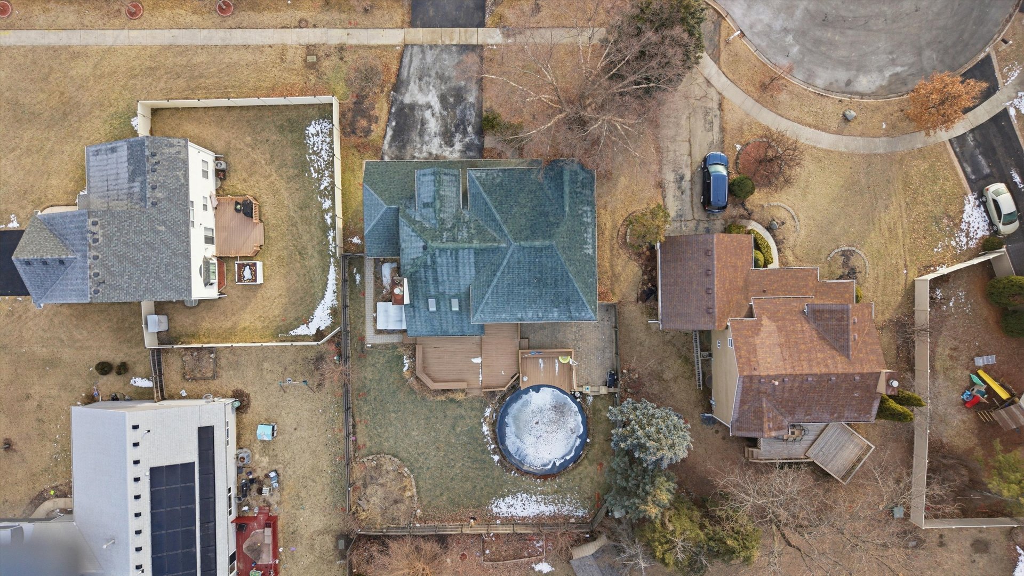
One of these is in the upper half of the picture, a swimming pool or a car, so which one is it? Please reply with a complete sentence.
There is a car in the upper half of the picture.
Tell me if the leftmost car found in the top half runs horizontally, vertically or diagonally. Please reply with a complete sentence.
The leftmost car found in the top half has been laid out vertically relative to the frame.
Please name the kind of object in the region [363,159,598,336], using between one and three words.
house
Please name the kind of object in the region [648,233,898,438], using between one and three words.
house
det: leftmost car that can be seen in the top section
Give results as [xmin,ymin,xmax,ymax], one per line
[702,152,733,213]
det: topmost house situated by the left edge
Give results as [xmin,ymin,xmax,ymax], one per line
[12,136,227,303]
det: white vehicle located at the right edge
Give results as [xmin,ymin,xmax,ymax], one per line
[984,180,1023,238]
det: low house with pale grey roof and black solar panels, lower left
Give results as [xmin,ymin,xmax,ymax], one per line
[22,398,237,576]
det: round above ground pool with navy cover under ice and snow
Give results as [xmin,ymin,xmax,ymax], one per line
[497,384,588,475]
